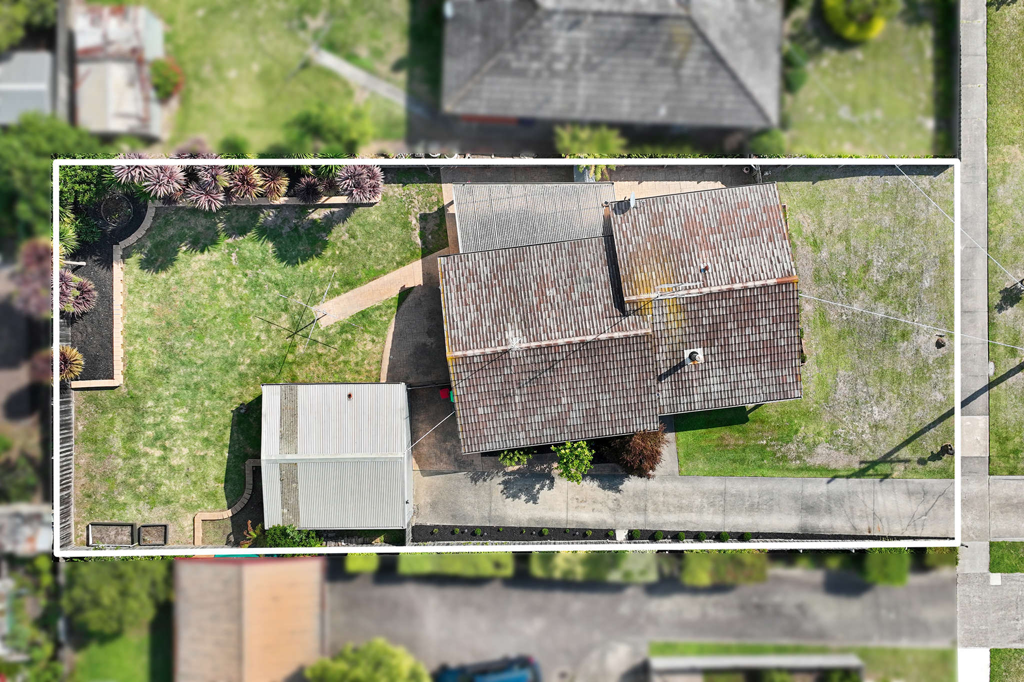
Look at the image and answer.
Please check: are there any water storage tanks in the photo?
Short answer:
No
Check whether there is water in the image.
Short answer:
No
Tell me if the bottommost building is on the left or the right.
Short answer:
left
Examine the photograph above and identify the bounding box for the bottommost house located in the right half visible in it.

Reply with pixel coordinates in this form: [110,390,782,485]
[439,180,806,456]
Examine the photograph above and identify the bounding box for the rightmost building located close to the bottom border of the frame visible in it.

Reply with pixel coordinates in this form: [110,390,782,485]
[174,553,336,682]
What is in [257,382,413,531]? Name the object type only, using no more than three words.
building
